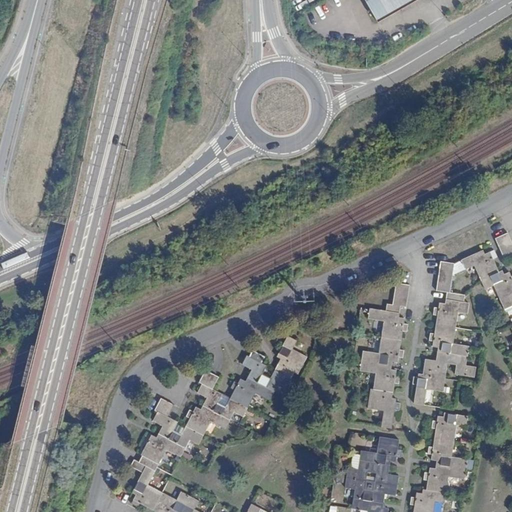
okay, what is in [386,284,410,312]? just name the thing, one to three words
building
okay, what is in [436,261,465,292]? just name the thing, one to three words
building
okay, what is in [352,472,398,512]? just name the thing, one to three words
house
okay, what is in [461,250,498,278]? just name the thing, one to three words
house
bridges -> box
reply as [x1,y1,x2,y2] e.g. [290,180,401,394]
[10,200,114,446]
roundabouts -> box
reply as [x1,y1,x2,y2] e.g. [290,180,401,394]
[210,42,351,172]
